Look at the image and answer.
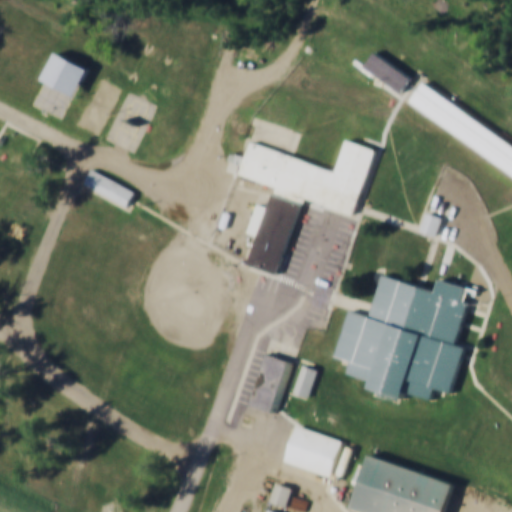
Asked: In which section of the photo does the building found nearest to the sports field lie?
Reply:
center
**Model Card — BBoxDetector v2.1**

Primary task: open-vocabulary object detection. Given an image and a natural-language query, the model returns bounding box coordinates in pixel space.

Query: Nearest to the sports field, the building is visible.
[247,195,302,273]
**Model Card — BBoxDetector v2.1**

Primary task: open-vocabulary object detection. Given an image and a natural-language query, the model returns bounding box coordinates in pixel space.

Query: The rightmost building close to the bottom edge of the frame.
[348,457,454,512]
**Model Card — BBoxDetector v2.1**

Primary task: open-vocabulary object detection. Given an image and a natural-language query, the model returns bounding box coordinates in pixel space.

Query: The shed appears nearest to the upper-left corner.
[38,53,84,96]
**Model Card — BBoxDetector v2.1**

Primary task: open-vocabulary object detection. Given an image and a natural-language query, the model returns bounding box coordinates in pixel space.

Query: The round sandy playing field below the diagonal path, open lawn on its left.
[144,232,240,350]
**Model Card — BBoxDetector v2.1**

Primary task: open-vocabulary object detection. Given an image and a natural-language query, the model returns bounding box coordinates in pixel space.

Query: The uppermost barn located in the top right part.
[364,52,412,92]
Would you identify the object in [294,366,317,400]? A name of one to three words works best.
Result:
shed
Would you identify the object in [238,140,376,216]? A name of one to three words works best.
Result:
building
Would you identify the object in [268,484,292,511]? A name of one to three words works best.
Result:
shed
